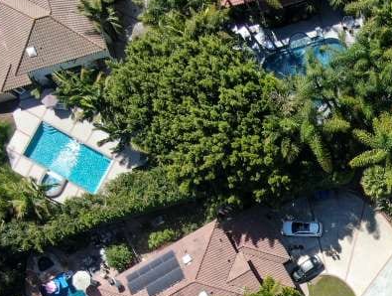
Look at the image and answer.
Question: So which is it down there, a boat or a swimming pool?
swimming pool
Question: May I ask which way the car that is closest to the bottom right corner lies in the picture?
diagonally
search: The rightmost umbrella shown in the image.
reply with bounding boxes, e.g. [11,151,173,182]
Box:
[73,272,92,290]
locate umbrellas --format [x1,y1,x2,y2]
[43,94,60,110]
[73,272,92,290]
